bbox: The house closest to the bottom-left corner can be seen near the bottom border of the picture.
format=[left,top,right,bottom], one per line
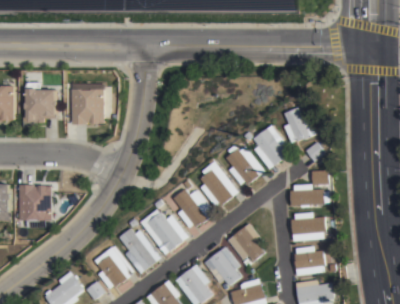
[46,272,85,304]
